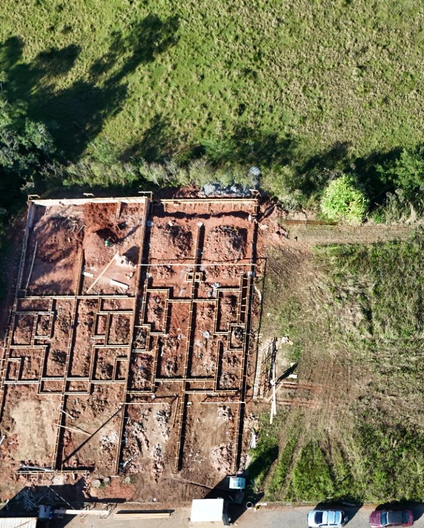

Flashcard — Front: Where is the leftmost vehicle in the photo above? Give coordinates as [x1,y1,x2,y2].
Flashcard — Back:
[306,509,347,528]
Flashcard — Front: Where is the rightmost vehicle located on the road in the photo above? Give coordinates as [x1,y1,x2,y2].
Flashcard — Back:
[370,509,414,528]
